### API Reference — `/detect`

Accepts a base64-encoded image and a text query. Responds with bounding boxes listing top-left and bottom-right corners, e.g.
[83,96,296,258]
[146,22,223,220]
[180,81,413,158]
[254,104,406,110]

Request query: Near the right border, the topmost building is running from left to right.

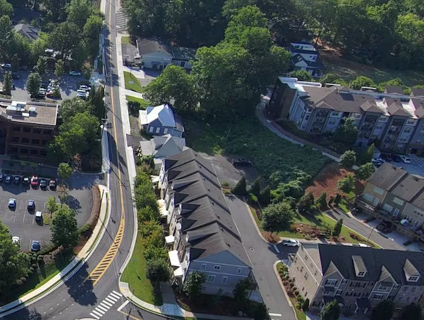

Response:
[269,77,424,162]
